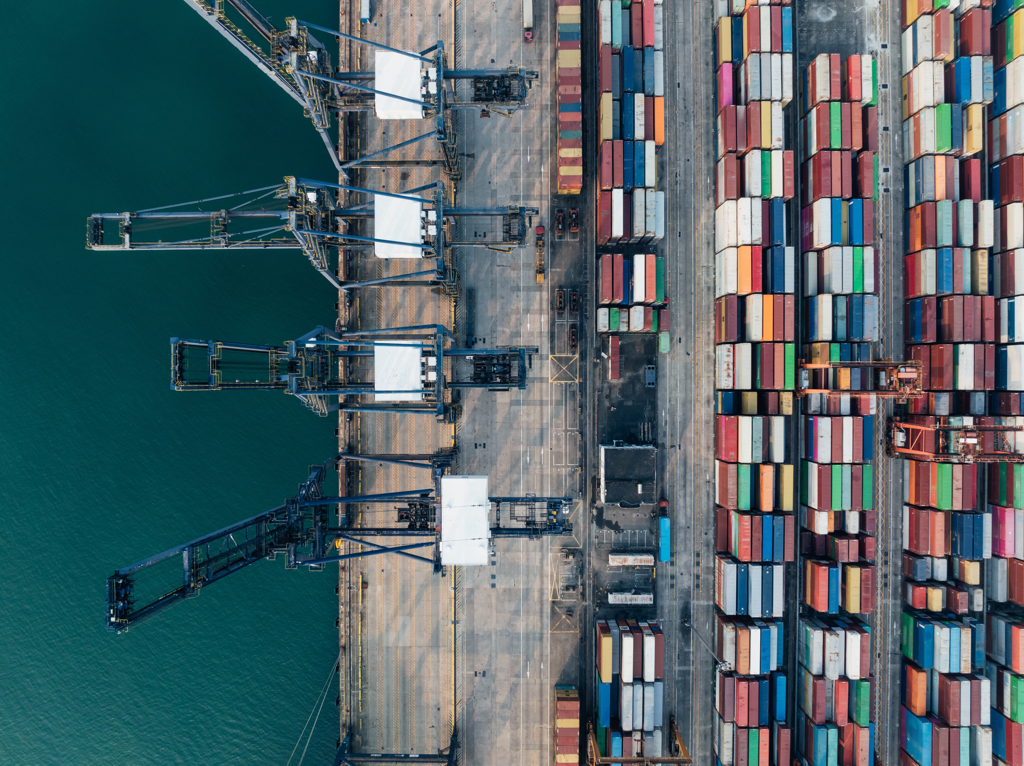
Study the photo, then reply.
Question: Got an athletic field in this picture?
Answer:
No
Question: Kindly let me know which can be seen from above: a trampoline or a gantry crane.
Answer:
gantry crane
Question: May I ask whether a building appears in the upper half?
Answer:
No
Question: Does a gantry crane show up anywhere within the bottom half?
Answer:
Yes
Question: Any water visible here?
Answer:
Yes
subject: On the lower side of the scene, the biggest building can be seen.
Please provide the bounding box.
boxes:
[599,438,656,510]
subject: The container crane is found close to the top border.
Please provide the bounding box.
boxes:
[186,0,551,190]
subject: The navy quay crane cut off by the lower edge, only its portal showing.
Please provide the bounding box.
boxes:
[332,722,468,766]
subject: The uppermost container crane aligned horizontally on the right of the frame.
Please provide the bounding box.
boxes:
[798,358,928,401]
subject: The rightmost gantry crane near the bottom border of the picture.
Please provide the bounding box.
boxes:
[585,714,693,766]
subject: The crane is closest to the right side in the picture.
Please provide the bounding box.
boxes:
[889,415,1024,462]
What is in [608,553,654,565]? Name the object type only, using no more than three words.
shed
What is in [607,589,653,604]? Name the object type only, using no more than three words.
shed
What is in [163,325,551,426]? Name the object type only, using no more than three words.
container crane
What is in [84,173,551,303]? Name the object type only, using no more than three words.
container crane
